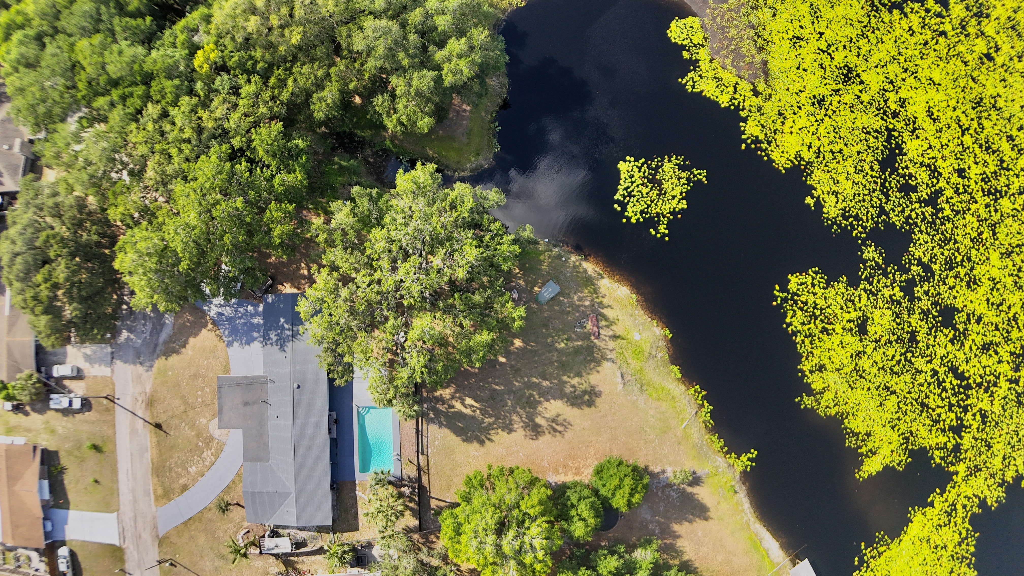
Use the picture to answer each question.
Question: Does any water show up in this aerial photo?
Yes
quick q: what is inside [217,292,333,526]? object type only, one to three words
house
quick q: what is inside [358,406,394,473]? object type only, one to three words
swimming pool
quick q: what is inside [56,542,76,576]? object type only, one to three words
vehicle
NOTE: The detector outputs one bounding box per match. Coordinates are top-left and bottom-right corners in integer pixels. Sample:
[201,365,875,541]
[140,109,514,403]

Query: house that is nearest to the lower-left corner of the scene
[0,444,56,548]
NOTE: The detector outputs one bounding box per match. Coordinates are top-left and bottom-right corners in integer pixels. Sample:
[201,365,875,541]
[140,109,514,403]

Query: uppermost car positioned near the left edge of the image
[50,364,82,378]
